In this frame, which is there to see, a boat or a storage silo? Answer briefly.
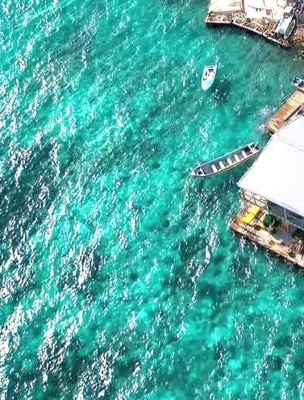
boat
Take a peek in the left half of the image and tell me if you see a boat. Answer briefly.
No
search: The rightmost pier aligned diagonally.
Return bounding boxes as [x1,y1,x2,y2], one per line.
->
[268,91,304,136]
